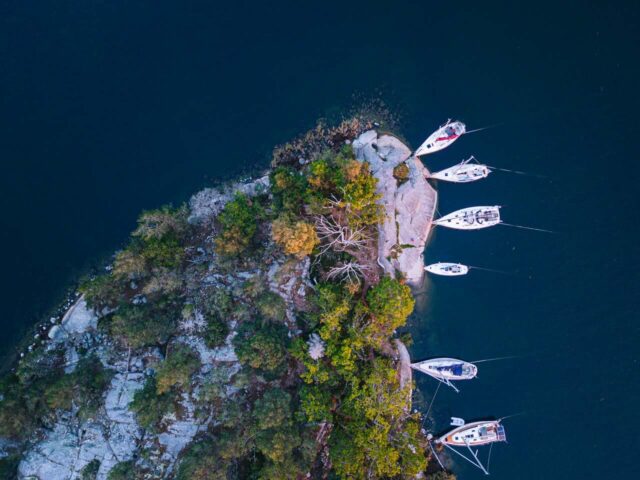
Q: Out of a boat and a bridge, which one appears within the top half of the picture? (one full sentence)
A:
Visible within the top half of the picture is a boat.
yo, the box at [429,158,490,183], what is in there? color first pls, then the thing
white boat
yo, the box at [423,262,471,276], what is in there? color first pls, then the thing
white boat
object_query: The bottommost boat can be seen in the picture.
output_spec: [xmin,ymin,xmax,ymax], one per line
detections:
[436,421,509,479]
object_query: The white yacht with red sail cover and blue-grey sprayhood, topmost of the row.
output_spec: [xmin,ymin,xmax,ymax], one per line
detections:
[414,122,466,156]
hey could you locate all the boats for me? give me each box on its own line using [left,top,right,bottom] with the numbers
[414,122,466,156]
[432,204,503,229]
[451,416,465,426]
[423,262,471,276]
[429,158,490,183]
[436,421,509,479]
[409,358,481,391]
